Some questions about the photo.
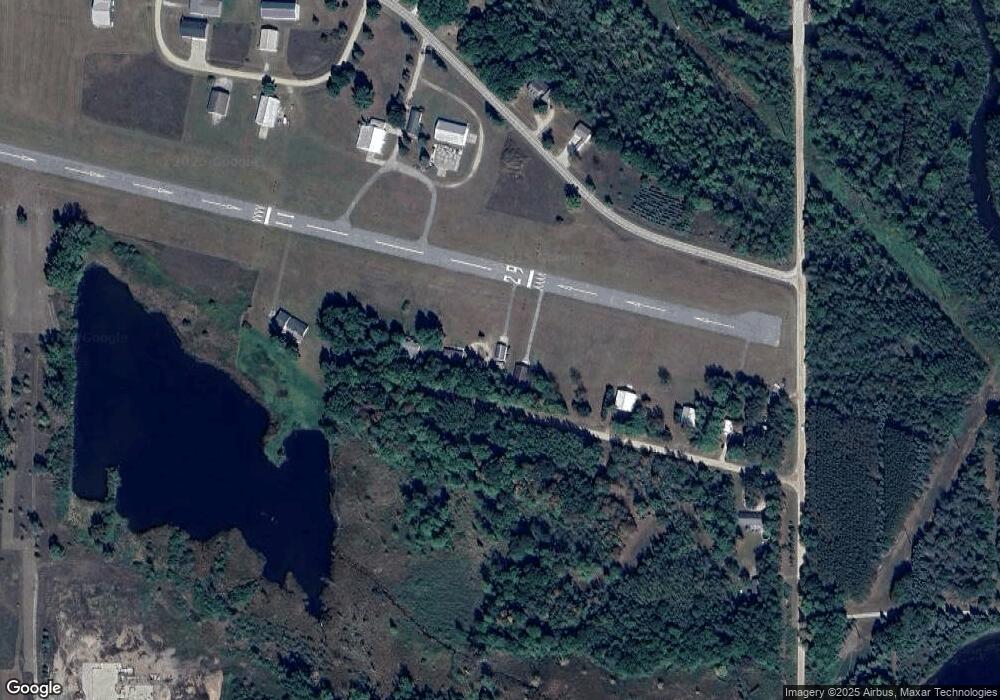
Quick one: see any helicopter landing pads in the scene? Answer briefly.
No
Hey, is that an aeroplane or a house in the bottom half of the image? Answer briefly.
house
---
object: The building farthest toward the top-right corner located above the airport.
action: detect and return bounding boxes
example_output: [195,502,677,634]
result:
[566,122,593,144]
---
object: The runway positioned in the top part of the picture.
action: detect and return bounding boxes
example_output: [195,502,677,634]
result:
[0,144,782,348]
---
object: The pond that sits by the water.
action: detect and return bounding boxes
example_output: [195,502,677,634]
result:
[74,263,337,611]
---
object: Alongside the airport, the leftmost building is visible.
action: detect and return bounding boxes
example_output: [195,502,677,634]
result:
[356,118,387,154]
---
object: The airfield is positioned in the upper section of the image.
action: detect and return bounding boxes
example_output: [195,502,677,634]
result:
[0,144,782,348]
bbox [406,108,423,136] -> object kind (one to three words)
shed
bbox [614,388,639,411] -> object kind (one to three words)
barn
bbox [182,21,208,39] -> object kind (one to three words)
house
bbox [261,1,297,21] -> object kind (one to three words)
house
